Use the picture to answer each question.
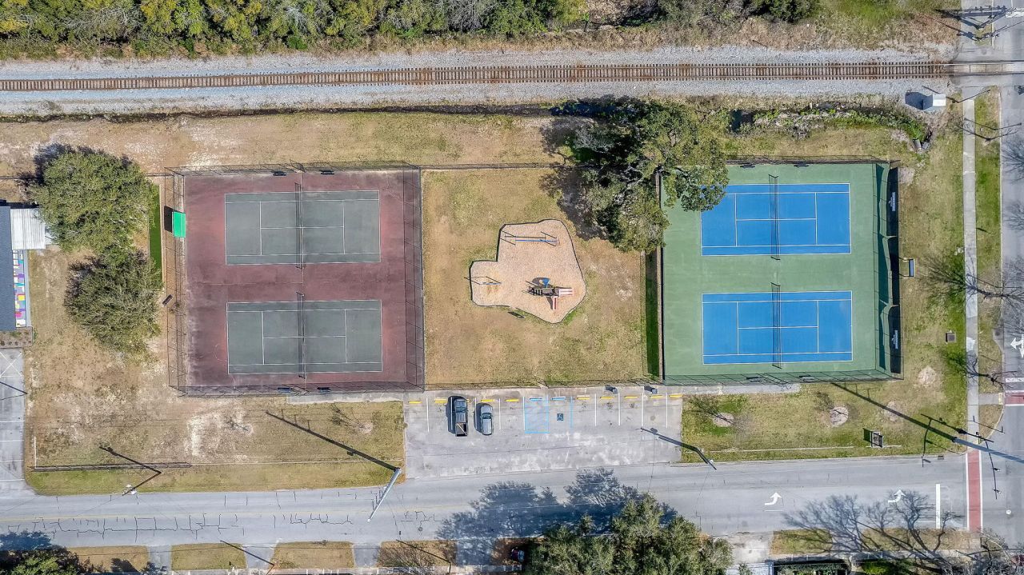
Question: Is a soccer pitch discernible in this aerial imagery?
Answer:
No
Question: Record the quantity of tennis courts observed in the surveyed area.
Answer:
4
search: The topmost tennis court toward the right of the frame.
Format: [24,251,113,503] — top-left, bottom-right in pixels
[660,163,892,274]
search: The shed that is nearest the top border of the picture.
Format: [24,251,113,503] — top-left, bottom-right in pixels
[921,93,946,112]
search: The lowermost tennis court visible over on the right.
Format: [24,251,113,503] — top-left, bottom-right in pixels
[662,272,893,385]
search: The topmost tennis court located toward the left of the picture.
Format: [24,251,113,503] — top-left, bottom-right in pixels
[185,169,424,284]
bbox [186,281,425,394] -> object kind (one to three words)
tennis court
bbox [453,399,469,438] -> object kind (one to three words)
vehicle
